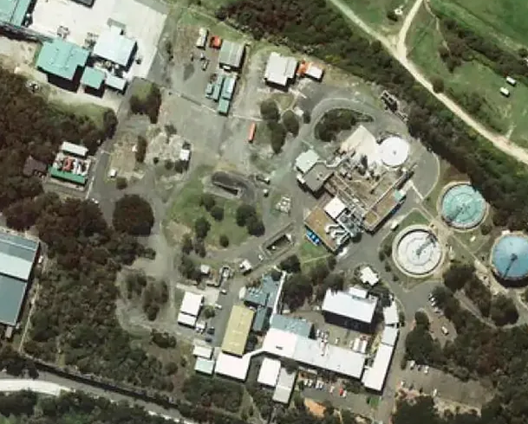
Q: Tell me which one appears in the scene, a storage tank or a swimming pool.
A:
storage tank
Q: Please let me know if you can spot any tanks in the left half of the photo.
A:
No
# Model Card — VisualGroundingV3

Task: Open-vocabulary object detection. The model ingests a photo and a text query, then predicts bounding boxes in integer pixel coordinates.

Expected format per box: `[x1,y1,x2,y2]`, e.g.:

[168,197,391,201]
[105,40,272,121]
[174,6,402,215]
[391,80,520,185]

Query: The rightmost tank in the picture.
[488,230,528,282]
